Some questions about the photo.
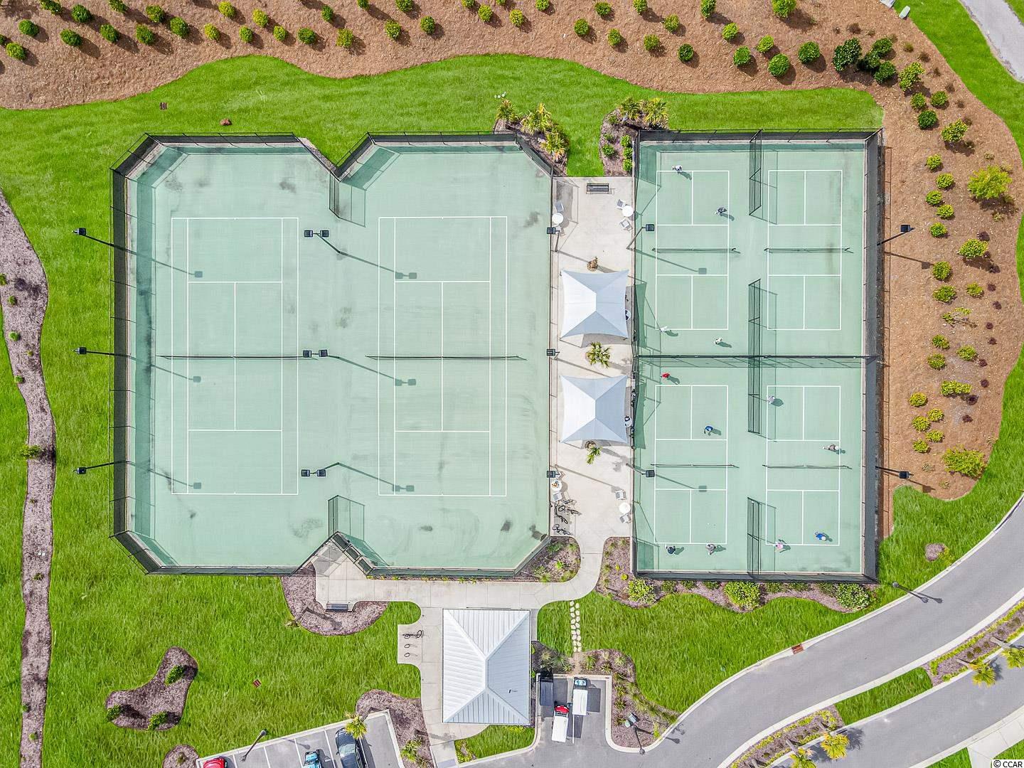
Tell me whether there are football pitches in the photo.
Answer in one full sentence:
No, the photo shows no football pitch.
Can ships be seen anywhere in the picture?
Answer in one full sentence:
No, the photo shows no ship.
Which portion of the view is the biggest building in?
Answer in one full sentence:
The biggest building is in the bottom part of the image.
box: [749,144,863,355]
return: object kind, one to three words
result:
sports court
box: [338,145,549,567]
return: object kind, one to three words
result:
tennis court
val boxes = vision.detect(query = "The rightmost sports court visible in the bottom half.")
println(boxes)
[748,358,861,570]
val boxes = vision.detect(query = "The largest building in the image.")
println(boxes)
[441,607,532,726]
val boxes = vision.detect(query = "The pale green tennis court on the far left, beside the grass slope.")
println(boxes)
[131,147,340,565]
